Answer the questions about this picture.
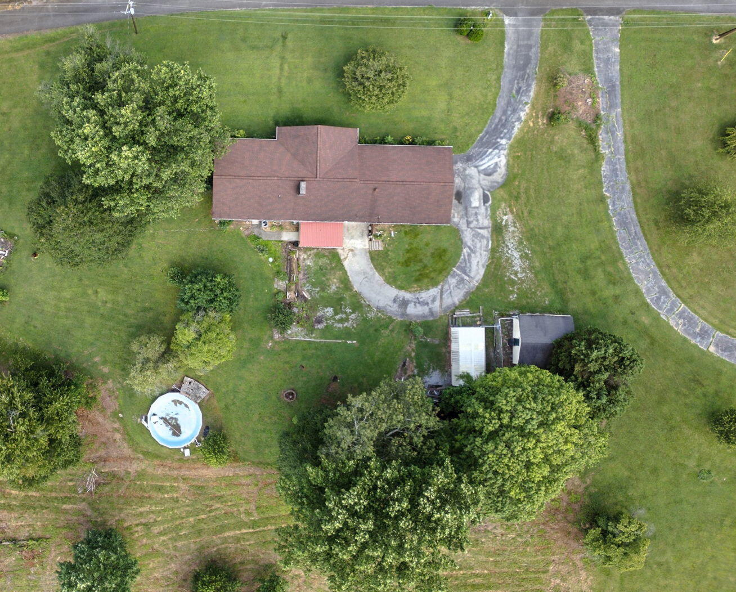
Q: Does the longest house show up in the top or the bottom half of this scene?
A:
top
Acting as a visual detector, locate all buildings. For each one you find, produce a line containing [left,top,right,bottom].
[510,314,574,366]
[445,326,486,386]
[212,126,454,248]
